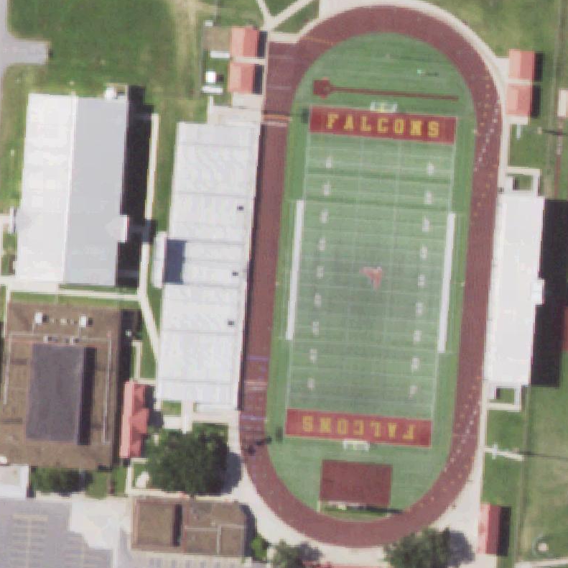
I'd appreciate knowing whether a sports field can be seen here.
Yes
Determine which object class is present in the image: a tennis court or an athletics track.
athletics track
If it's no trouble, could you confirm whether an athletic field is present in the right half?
Yes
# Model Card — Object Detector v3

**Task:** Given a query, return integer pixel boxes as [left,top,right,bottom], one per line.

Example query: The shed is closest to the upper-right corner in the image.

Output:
[509,49,537,80]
